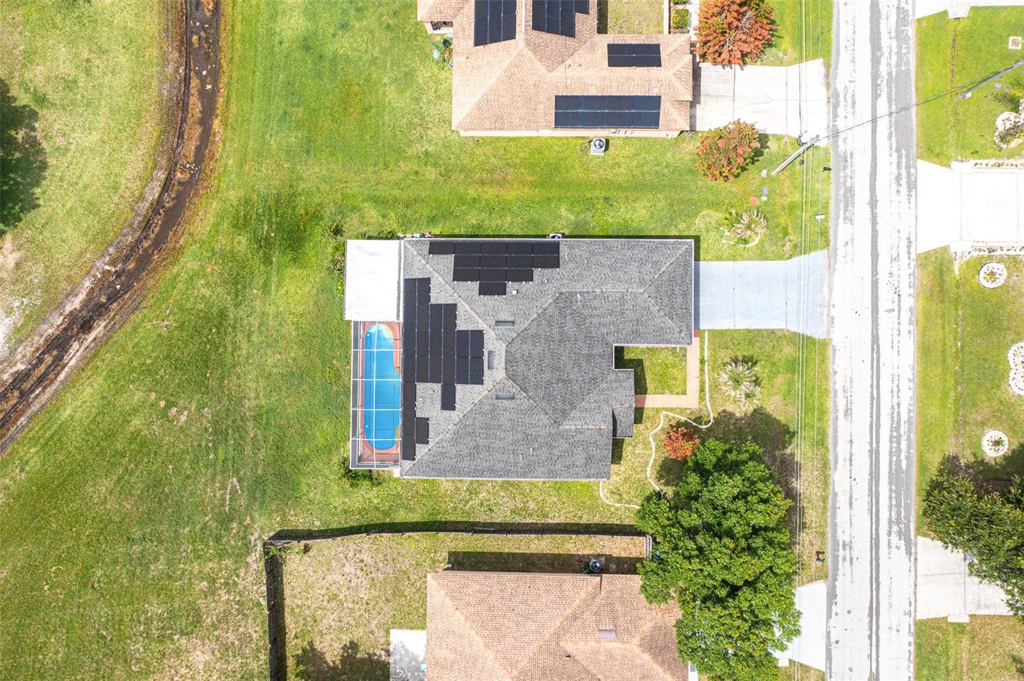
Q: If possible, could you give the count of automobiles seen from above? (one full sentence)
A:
Not a single automobile can be seen.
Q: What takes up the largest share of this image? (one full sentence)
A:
The scene is dominated by grass.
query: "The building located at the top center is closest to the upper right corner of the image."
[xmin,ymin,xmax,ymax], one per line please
[417,0,693,138]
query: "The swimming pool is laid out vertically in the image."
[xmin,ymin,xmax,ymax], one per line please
[360,321,401,454]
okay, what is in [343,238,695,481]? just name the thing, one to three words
house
